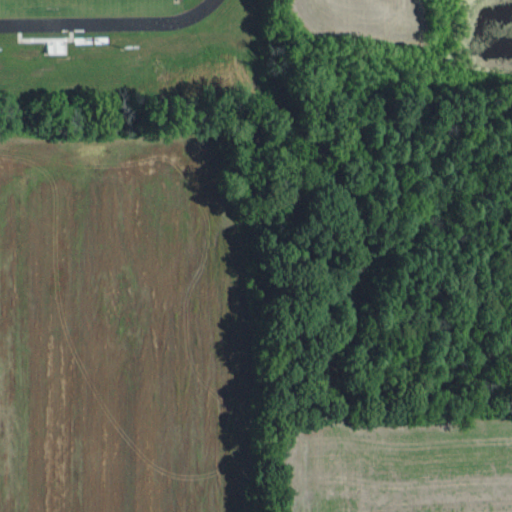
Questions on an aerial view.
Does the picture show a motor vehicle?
No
